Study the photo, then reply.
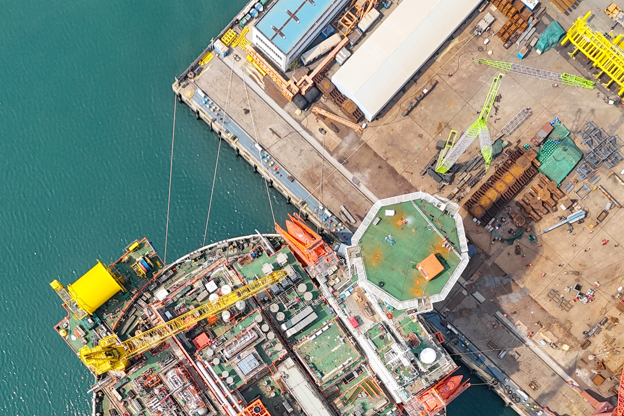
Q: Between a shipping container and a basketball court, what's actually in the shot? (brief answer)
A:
shipping container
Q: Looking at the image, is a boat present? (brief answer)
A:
Yes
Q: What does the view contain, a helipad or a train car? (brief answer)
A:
helipad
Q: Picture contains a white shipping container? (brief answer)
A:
Yes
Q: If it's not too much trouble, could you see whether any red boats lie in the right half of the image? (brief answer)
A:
Yes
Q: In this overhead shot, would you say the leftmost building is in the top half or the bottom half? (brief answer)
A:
top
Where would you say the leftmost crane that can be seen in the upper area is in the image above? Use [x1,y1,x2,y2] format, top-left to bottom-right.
[431,72,507,190]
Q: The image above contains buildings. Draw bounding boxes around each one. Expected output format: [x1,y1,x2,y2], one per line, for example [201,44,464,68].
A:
[336,0,488,123]
[251,0,353,73]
